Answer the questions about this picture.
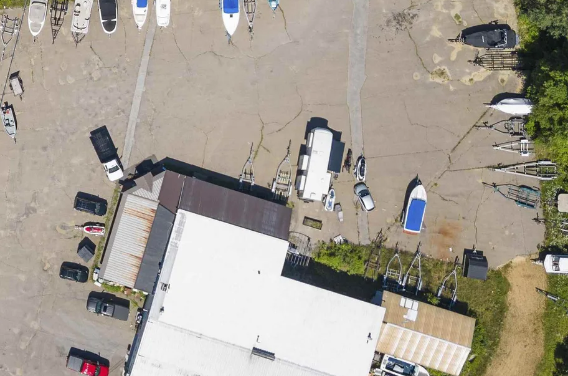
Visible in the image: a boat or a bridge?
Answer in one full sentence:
I can see a boat in this picture.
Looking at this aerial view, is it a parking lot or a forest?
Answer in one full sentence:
The picture captures a parking lot.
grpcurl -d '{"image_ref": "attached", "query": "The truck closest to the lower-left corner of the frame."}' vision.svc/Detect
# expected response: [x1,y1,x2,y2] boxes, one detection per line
[65,355,110,376]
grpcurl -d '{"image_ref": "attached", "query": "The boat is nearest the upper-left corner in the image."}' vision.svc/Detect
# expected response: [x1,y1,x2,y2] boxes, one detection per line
[28,0,48,35]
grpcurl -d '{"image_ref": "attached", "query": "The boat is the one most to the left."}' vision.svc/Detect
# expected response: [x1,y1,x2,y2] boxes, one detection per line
[0,106,14,139]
